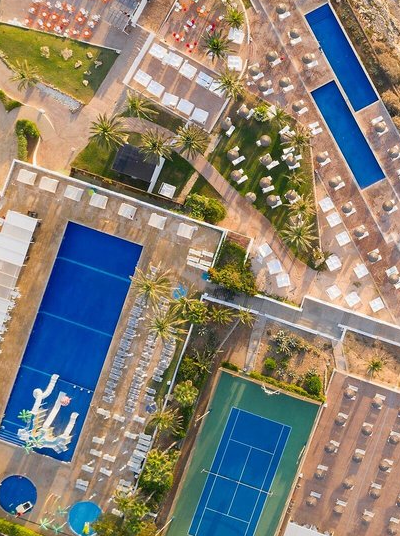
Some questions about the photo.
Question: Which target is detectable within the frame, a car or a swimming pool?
swimming pool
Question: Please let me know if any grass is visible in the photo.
Yes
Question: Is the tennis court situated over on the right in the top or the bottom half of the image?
bottom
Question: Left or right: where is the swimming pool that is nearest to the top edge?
right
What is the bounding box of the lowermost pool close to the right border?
[309,78,386,190]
